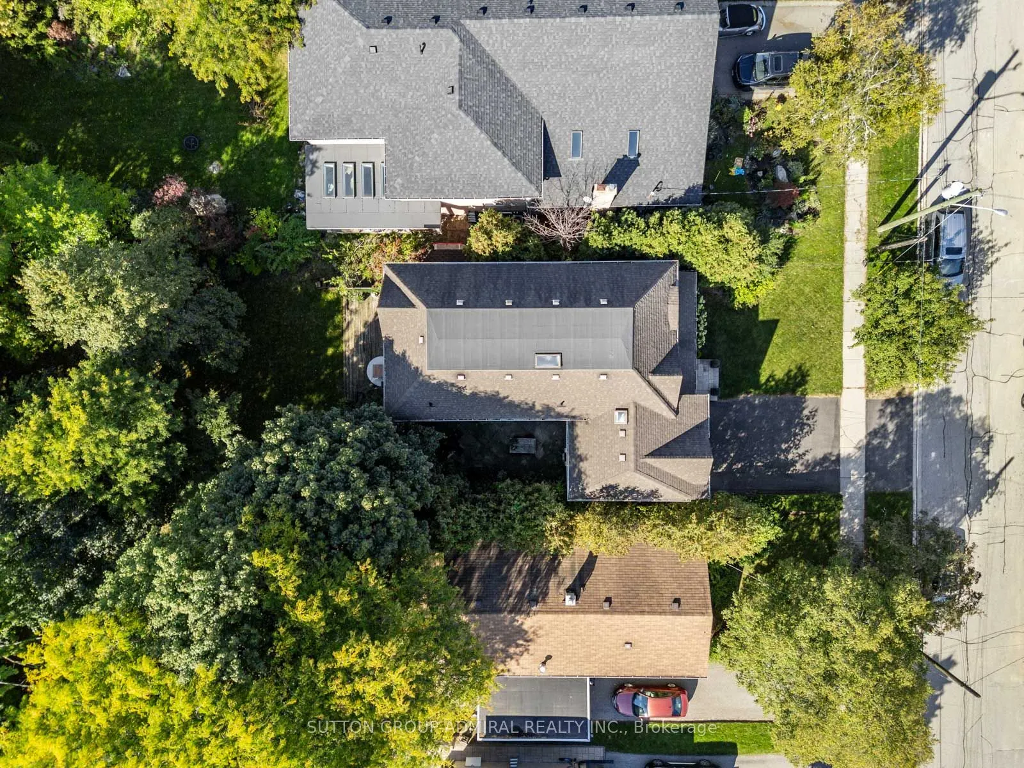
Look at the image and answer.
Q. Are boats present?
No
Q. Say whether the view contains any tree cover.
Yes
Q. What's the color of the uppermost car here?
black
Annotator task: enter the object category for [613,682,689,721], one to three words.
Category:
car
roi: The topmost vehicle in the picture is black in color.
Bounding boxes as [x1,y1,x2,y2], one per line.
[718,5,763,41]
